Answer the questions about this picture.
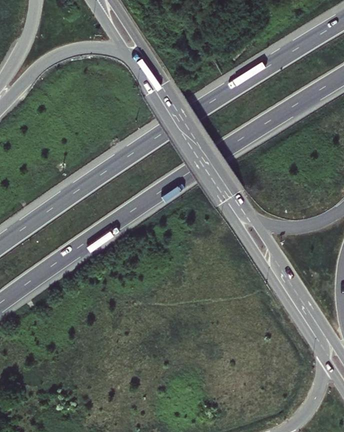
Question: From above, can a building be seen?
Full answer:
No, the frame has no building in it.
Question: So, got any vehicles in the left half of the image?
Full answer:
Yes, in the left half of the image there is a vehicle.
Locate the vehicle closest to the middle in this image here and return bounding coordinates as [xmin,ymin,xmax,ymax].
[160,183,186,202]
